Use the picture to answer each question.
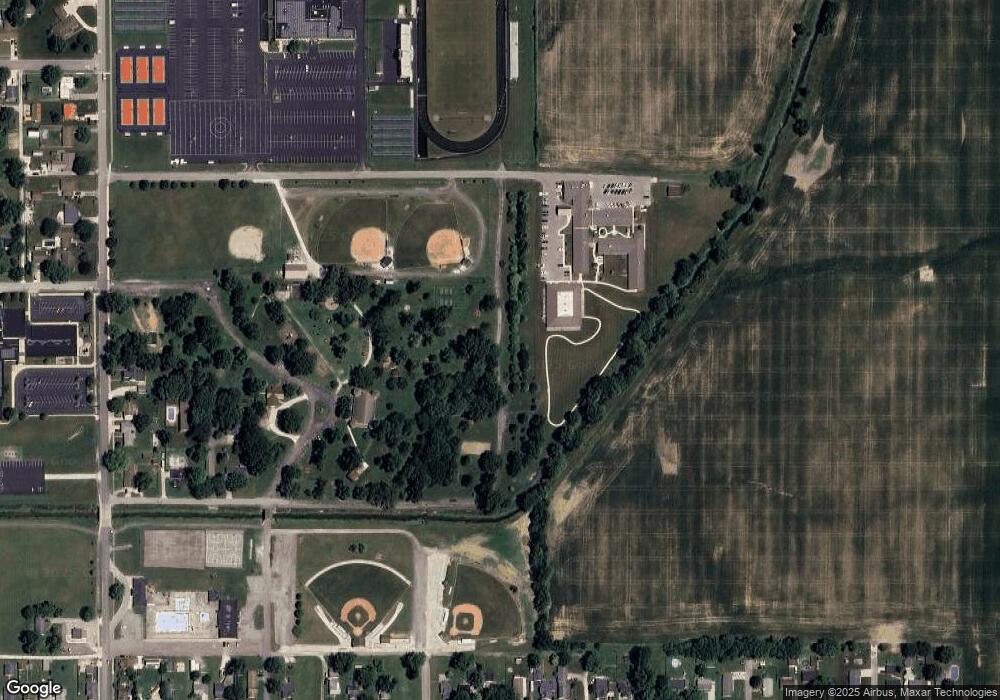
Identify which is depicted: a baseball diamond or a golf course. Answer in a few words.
baseball diamond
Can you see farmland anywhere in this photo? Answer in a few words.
Yes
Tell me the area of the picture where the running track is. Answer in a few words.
top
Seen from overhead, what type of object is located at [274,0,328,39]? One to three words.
building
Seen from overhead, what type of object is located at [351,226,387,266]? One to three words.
baseball field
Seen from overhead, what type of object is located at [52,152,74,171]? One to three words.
house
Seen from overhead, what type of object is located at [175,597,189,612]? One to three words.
swimming pool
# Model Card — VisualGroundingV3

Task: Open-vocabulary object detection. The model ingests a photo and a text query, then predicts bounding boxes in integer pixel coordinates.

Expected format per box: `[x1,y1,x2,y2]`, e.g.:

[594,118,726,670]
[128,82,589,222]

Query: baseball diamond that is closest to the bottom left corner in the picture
[307,562,402,639]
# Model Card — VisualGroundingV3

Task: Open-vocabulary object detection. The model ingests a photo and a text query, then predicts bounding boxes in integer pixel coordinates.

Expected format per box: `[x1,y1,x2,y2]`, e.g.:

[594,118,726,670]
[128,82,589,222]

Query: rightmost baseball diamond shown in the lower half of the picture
[446,603,483,640]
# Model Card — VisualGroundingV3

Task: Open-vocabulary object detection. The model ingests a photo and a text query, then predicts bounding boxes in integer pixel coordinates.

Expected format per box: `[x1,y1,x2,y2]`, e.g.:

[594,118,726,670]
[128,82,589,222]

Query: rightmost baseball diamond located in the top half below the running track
[427,228,465,268]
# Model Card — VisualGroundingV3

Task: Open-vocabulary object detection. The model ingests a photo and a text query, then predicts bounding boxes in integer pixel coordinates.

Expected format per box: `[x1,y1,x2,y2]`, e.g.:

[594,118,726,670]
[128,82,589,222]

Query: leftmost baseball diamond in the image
[229,226,266,264]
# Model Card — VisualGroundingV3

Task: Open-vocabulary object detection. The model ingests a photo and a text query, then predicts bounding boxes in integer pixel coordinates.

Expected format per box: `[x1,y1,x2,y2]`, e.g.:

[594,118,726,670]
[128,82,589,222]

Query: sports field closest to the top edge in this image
[428,0,496,140]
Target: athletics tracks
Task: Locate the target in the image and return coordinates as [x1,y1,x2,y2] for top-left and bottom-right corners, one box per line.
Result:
[415,0,509,158]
